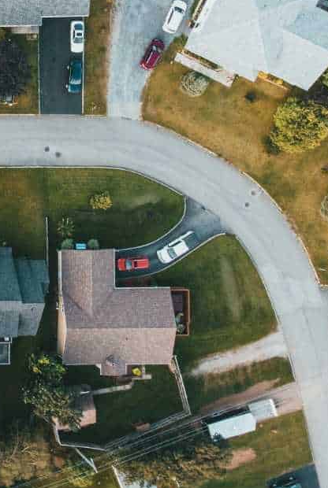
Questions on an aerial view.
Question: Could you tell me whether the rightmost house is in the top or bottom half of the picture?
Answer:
top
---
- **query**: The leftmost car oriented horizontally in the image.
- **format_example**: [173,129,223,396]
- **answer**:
[115,256,151,273]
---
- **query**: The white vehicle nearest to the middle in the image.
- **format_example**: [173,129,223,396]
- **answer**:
[155,230,201,266]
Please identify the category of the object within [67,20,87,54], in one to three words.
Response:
car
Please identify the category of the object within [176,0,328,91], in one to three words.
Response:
house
